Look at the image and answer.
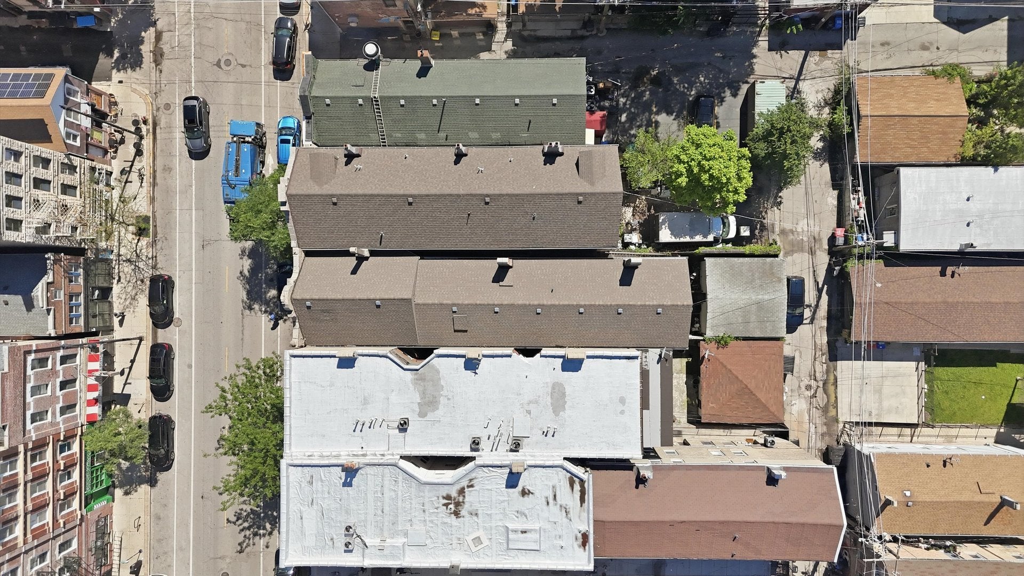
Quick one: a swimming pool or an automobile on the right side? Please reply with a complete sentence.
The feature located on the right side is an automobile.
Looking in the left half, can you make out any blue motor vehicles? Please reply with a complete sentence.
Yes, a blue motor vehicle is visible in the left half.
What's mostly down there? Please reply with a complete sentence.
Most of the picture is covered by buildings.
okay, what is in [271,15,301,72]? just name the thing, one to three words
car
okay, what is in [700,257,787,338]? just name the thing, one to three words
building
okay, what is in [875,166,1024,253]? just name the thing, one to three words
house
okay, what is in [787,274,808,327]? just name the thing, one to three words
car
